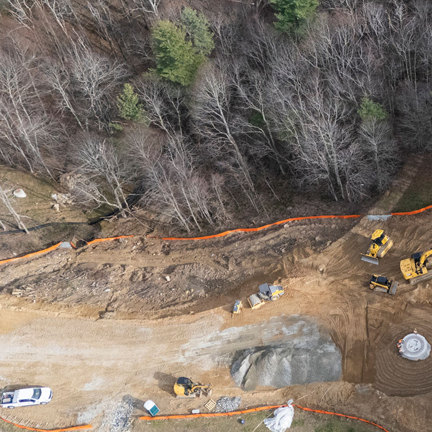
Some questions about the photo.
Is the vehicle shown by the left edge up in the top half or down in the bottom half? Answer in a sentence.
You can find the vehicle shown by the left edge in the bottom half.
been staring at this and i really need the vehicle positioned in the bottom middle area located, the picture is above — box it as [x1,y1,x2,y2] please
[172,378,216,401]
